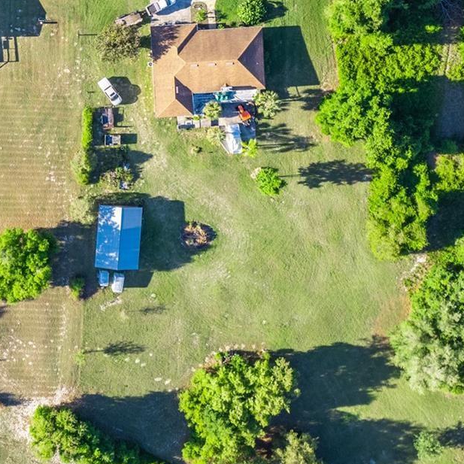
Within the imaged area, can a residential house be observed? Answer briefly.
Yes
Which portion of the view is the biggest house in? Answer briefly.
top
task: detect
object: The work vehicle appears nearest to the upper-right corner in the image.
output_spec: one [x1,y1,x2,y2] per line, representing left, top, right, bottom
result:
[236,102,254,125]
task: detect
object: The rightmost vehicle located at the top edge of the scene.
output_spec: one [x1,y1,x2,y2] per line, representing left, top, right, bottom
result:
[144,0,176,18]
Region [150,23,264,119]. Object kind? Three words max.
house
